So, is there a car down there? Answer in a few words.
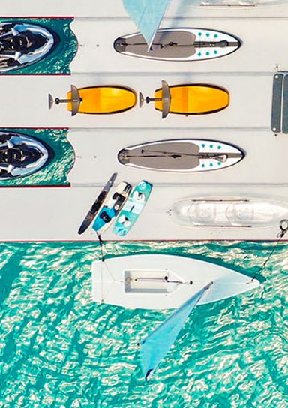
No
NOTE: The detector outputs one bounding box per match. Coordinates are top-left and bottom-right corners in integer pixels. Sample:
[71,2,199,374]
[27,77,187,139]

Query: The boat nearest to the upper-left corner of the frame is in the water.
[0,27,61,74]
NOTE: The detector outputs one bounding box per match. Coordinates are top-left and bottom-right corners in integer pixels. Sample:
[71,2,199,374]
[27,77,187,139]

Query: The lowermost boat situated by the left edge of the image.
[0,136,55,183]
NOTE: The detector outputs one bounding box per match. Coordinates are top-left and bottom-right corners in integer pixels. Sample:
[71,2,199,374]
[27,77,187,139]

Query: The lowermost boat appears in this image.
[91,254,261,379]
